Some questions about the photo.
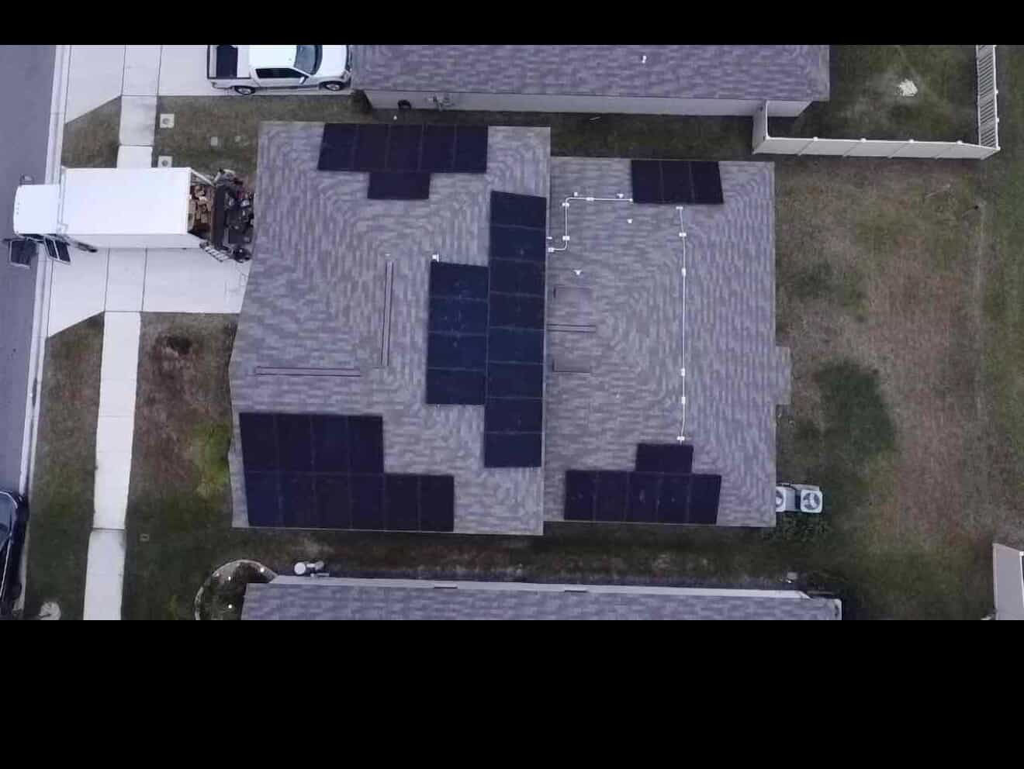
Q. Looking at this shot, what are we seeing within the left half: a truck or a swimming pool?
truck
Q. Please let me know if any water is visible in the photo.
No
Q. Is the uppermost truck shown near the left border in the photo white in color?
Yes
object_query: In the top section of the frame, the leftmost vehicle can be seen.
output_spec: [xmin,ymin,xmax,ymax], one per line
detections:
[3,165,235,270]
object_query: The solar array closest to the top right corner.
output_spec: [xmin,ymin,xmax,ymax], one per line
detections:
[631,159,723,204]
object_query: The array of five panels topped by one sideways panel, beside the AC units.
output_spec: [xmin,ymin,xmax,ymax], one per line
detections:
[564,444,721,525]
